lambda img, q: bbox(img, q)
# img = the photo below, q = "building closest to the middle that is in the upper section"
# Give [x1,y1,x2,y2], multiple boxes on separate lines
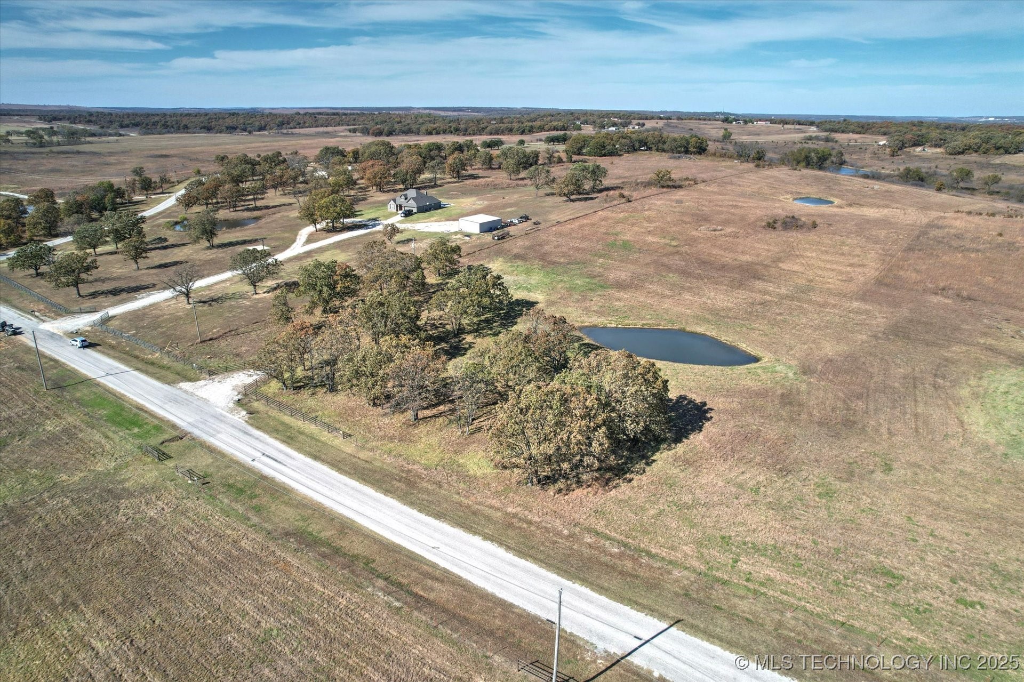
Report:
[458,215,502,234]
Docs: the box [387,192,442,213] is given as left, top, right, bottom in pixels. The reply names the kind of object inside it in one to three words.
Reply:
house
